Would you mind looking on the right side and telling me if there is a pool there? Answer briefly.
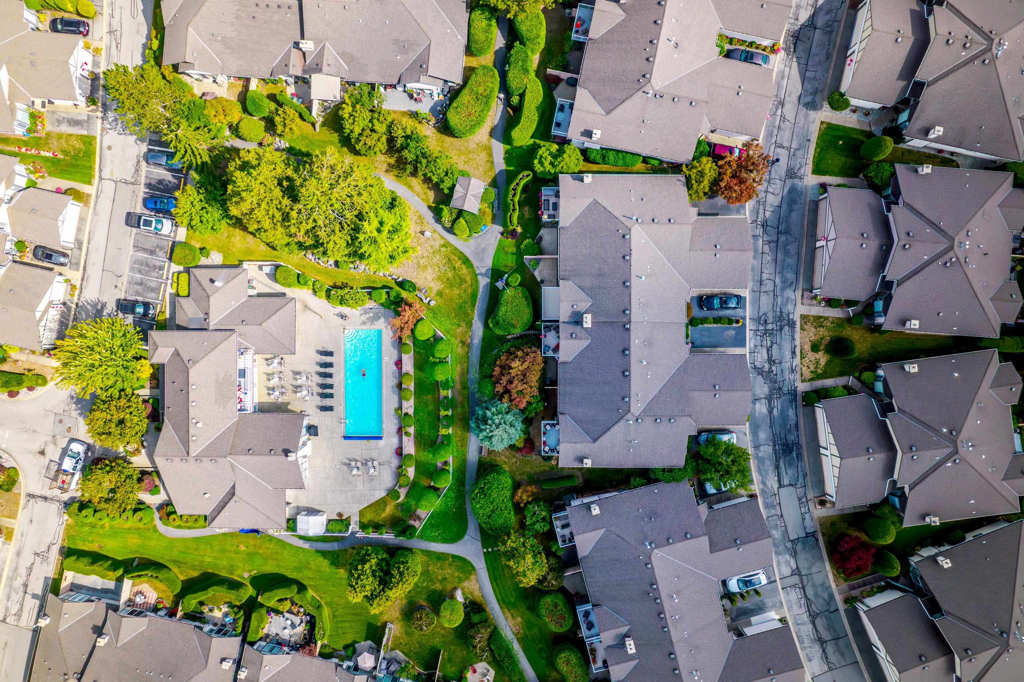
No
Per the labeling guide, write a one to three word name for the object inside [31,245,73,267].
car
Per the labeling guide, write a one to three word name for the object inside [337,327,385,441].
swimming pool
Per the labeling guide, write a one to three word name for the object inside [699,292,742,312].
car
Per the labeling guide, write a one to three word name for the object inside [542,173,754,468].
house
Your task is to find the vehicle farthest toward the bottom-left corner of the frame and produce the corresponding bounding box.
[46,435,92,499]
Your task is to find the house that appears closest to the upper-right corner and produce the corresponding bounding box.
[841,0,1024,164]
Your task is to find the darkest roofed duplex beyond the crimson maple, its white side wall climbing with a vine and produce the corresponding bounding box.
[857,517,1024,682]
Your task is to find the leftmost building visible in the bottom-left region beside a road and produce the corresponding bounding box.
[28,588,120,682]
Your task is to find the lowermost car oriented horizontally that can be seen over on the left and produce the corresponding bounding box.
[117,298,159,318]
